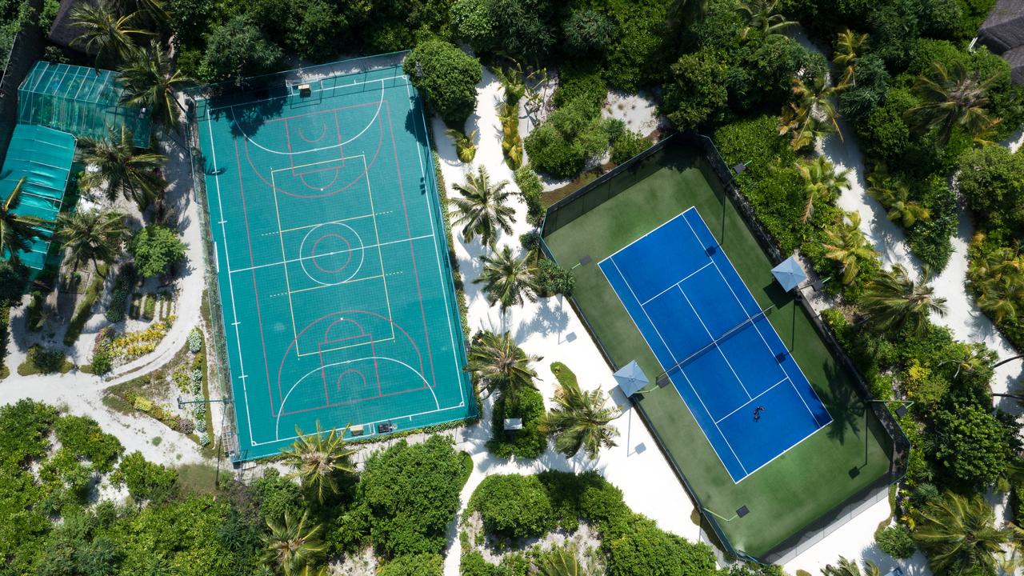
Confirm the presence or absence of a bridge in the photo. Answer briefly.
No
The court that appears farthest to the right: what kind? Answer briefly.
tennis court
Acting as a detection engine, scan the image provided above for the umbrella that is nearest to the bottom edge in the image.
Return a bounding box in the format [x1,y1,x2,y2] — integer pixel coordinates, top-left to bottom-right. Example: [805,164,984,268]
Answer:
[612,360,649,397]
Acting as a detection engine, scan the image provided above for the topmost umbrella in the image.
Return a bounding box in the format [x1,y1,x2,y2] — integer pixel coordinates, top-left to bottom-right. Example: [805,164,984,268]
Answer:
[770,257,806,292]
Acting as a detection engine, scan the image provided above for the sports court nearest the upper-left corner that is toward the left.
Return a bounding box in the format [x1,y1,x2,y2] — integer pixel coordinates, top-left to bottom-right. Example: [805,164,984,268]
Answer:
[195,63,476,463]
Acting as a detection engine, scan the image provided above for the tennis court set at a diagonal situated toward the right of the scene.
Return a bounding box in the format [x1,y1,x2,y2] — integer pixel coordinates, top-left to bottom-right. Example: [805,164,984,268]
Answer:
[540,143,895,559]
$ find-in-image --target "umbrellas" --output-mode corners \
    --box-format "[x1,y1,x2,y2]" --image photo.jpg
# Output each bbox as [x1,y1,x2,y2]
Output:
[770,257,806,292]
[612,360,649,397]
